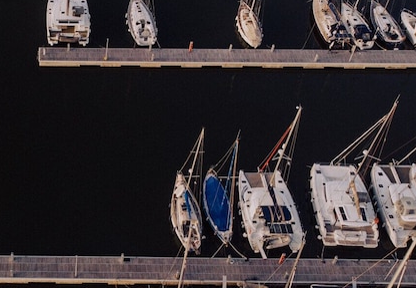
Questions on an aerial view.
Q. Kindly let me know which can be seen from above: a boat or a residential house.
boat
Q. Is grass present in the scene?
No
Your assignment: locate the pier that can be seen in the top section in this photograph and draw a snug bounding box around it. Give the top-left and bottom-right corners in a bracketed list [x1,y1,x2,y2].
[40,47,416,67]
